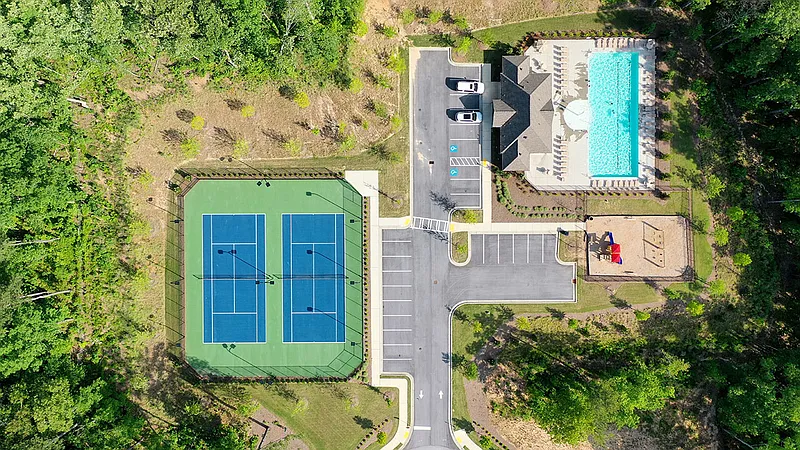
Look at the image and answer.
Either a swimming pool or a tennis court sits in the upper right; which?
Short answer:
swimming pool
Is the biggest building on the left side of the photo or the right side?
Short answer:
right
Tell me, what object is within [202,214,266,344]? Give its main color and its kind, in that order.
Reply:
blue tennis court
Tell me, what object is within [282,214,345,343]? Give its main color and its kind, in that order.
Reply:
blue tennis court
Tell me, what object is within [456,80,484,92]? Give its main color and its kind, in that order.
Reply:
white vehicle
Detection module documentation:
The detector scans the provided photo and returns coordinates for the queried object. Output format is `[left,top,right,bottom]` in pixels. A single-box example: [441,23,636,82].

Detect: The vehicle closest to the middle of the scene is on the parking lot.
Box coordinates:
[455,109,482,123]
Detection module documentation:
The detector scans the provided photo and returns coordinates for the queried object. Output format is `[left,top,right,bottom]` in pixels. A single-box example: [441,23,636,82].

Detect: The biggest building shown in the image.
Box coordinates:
[491,55,556,171]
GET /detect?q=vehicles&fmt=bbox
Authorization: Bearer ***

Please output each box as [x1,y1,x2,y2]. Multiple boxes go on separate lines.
[456,80,484,92]
[455,109,482,123]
